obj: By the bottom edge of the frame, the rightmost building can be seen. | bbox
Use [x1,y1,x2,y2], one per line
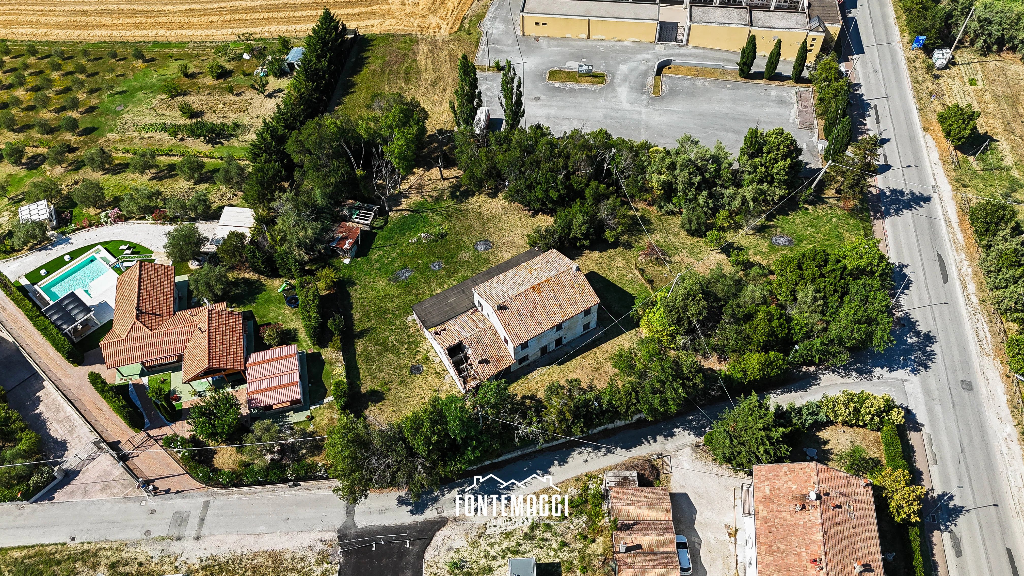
[741,464,888,576]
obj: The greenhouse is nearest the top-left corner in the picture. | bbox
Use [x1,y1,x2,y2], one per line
[285,43,310,71]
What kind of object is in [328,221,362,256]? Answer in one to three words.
shed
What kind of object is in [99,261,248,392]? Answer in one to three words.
house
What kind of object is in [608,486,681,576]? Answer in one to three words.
shed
